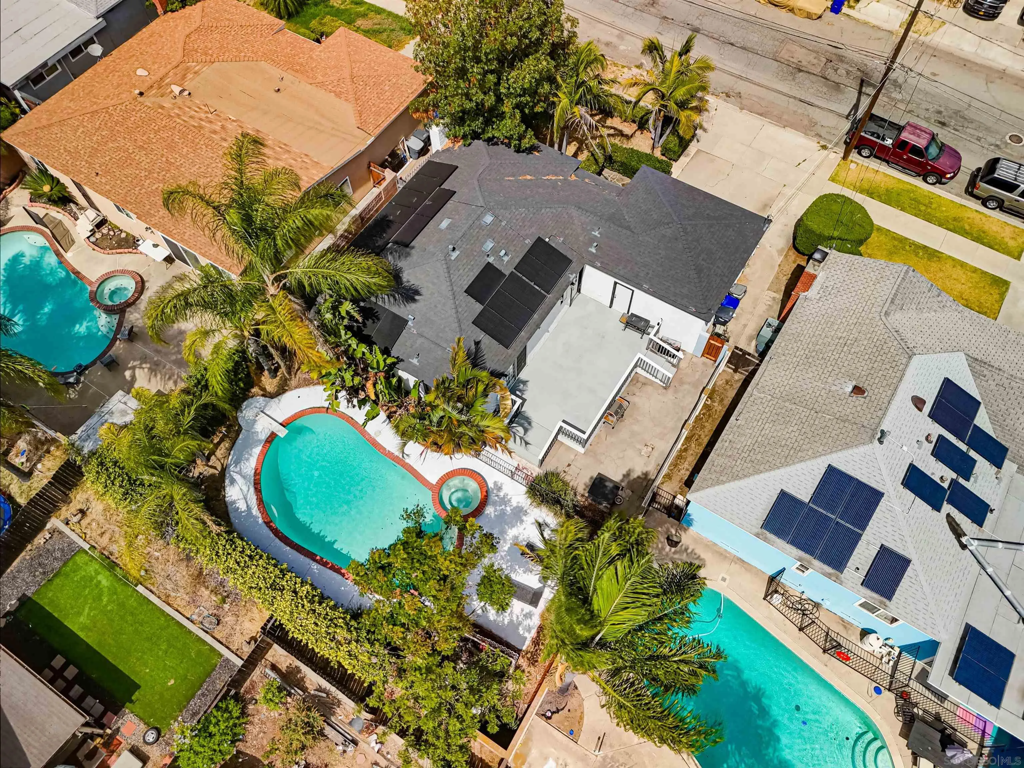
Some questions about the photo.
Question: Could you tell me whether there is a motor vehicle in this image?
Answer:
Yes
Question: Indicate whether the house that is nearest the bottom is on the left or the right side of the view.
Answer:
left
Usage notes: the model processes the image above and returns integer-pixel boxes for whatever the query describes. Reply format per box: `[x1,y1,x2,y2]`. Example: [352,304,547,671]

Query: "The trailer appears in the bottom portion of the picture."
[588,473,637,509]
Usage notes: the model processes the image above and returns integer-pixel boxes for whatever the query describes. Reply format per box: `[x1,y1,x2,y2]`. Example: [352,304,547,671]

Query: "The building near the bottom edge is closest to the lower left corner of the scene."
[0,636,104,768]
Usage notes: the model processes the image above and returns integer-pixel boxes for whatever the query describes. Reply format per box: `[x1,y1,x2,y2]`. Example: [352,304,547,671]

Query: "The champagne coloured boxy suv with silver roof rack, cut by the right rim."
[974,162,1024,216]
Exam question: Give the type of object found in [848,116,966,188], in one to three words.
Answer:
truck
